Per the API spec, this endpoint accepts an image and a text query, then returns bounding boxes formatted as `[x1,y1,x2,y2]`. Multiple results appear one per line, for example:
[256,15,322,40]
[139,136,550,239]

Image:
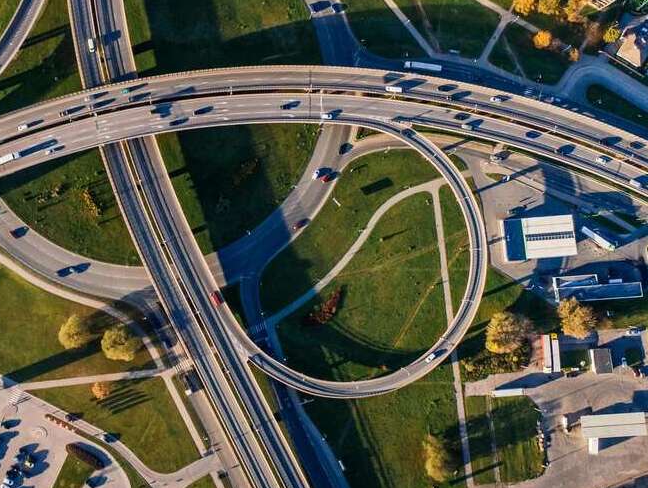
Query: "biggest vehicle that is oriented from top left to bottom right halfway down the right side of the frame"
[583,224,618,249]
